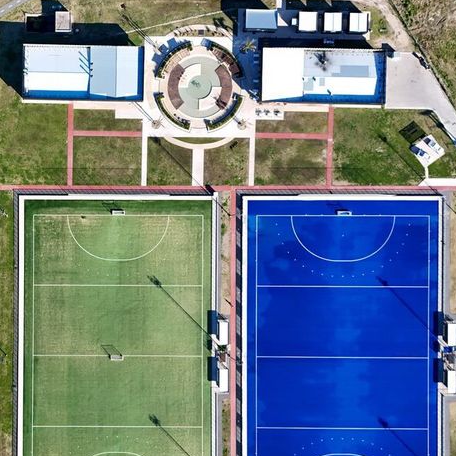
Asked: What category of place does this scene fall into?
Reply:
sports ground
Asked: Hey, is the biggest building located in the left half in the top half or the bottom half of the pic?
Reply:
top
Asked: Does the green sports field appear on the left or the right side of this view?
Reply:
left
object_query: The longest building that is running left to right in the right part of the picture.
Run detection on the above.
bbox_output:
[250,47,388,107]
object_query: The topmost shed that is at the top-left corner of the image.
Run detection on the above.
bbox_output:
[55,11,71,34]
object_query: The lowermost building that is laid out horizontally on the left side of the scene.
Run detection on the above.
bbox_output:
[23,43,144,103]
